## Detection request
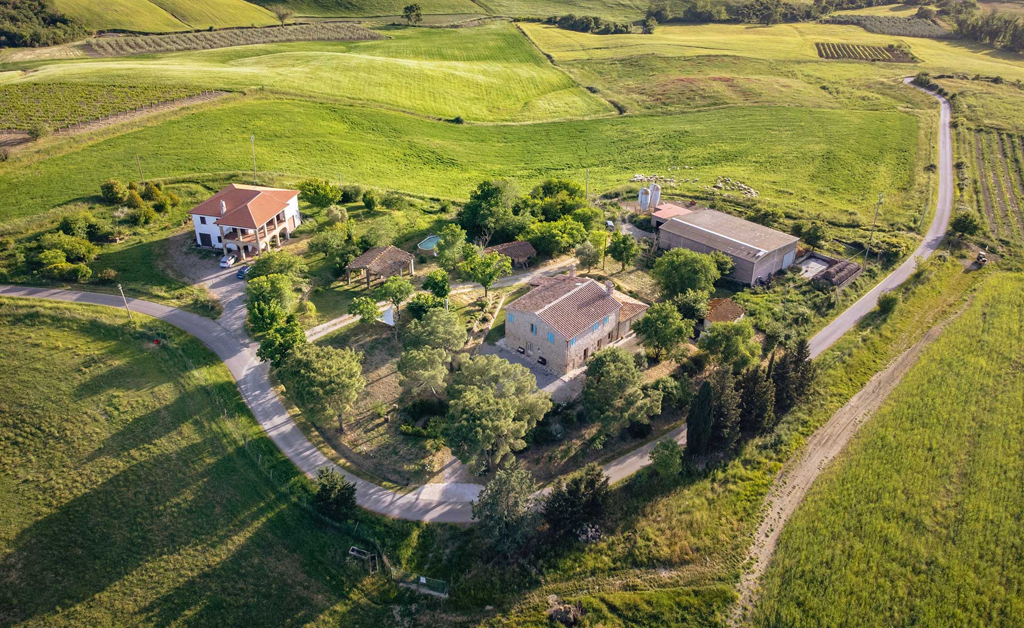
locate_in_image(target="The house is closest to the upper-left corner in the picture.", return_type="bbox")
[187,184,302,259]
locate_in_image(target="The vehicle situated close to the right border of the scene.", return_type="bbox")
[974,252,994,268]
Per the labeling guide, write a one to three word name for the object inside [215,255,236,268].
vehicle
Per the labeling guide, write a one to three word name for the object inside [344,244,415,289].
barn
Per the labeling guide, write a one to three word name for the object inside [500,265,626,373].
house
